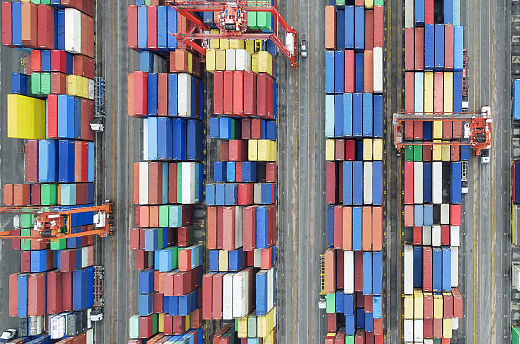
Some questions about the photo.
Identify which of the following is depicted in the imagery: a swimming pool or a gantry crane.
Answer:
gantry crane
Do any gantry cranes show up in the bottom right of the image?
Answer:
No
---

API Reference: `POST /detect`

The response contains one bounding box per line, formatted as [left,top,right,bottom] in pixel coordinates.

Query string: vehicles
[89,77,104,130]
[462,50,470,109]
[462,161,468,192]
[480,148,490,164]
[316,256,326,310]
[90,267,105,320]
[300,39,307,58]
[1,327,19,340]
